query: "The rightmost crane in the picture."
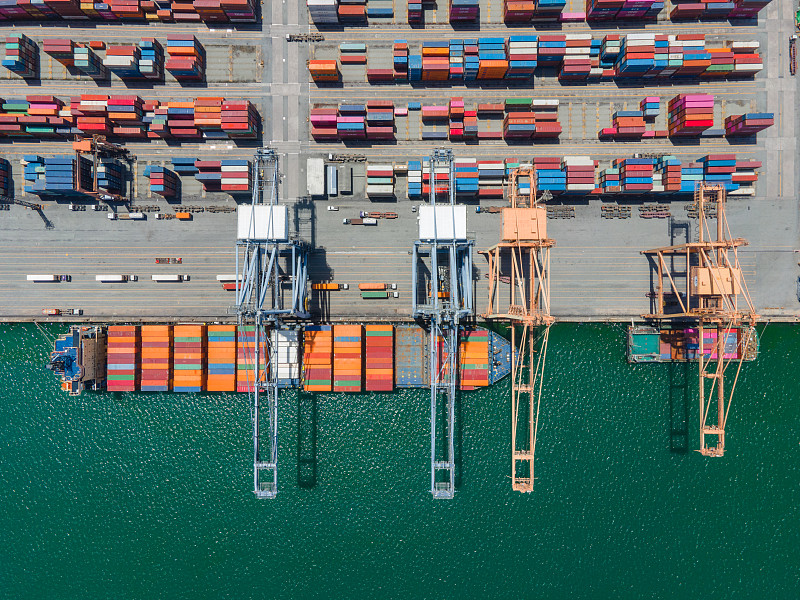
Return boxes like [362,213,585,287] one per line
[638,187,755,456]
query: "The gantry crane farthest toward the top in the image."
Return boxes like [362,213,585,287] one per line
[68,135,134,206]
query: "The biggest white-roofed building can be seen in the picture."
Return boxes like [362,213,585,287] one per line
[307,158,326,198]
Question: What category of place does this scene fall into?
port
